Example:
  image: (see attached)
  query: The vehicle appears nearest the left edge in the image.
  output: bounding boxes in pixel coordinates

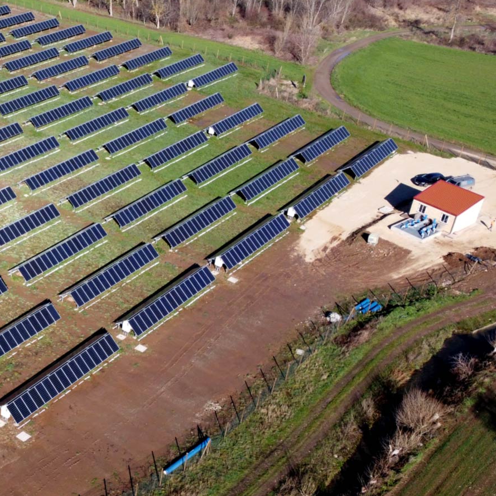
[415,172,444,185]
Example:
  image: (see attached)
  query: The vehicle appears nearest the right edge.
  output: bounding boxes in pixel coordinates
[454,172,484,187]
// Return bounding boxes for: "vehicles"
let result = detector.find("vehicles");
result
[415,172,444,185]
[454,172,484,187]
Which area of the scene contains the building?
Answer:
right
